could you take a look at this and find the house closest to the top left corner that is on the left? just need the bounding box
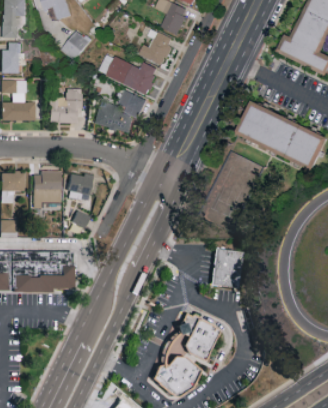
[2,0,26,38]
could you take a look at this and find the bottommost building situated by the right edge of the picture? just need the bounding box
[236,102,326,168]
